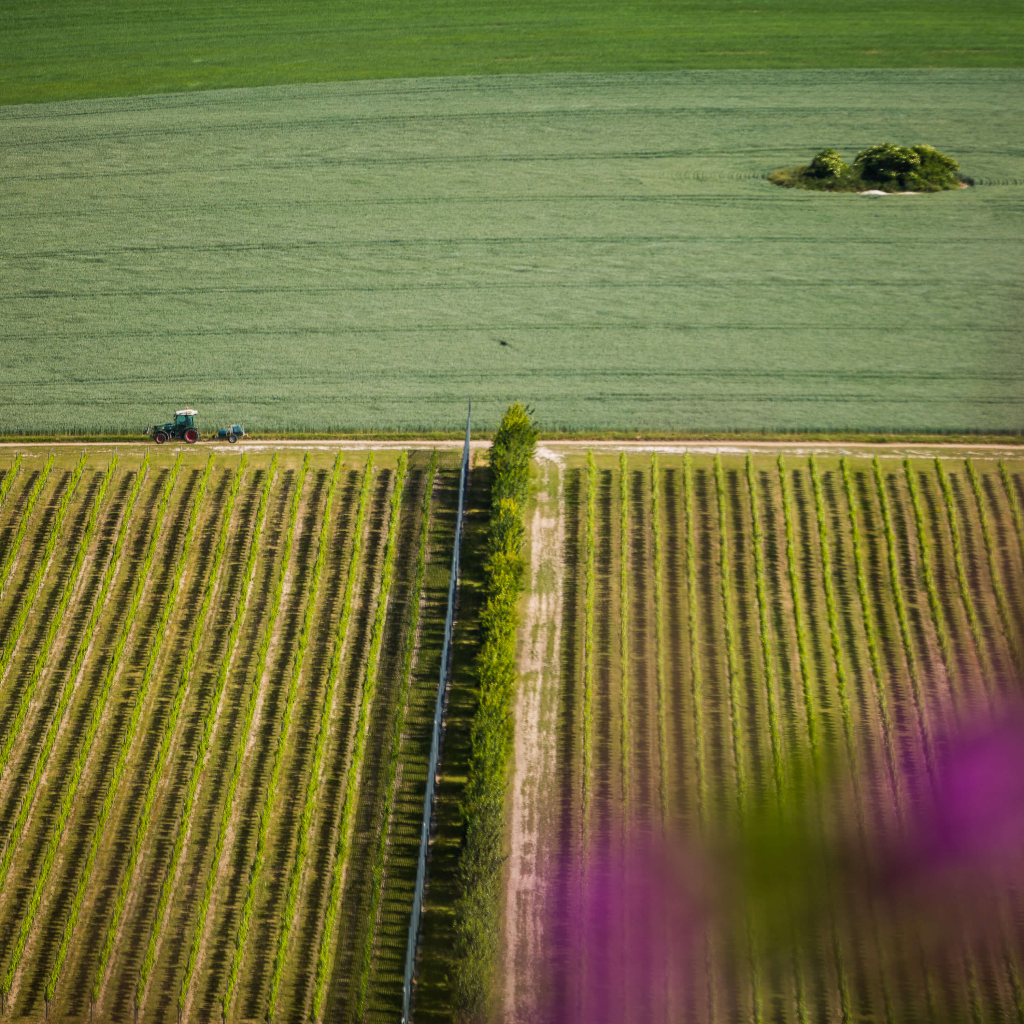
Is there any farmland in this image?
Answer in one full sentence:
Yes, there is farmland in the image.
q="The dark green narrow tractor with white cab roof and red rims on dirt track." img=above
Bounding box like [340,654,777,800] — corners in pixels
[143,406,203,443]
